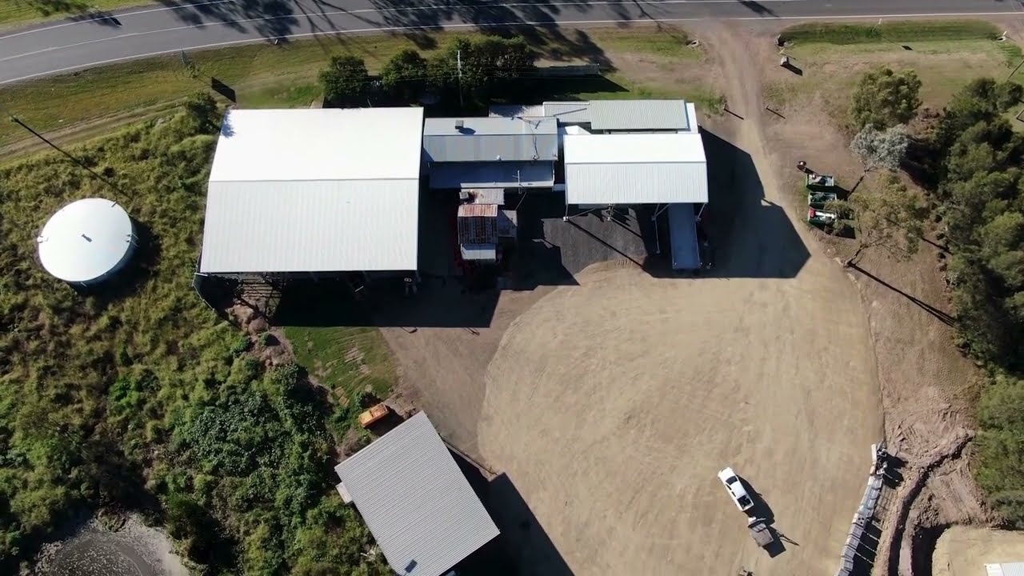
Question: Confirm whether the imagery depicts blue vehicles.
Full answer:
No, I can see no blue vehicle in this picture.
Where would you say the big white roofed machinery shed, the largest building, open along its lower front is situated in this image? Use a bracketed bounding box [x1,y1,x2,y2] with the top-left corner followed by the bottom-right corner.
[198,108,425,286]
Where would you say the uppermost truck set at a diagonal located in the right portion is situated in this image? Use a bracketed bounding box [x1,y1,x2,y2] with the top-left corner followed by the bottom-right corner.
[717,469,754,512]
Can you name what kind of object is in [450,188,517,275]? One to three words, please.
building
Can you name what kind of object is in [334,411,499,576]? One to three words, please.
shed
